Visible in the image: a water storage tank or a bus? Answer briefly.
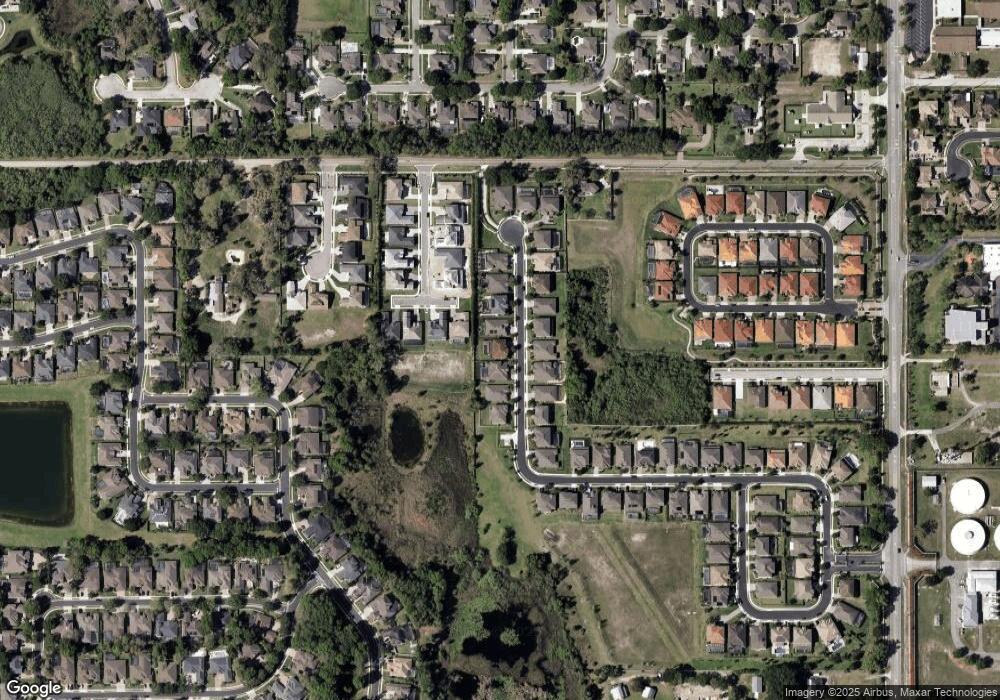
water storage tank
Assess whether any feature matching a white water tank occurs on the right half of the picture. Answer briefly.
Yes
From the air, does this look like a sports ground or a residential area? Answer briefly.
residential area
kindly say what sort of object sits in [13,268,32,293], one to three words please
house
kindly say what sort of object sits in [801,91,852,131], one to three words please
building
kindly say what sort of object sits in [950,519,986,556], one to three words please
water tank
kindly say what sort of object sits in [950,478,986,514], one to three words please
water tank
